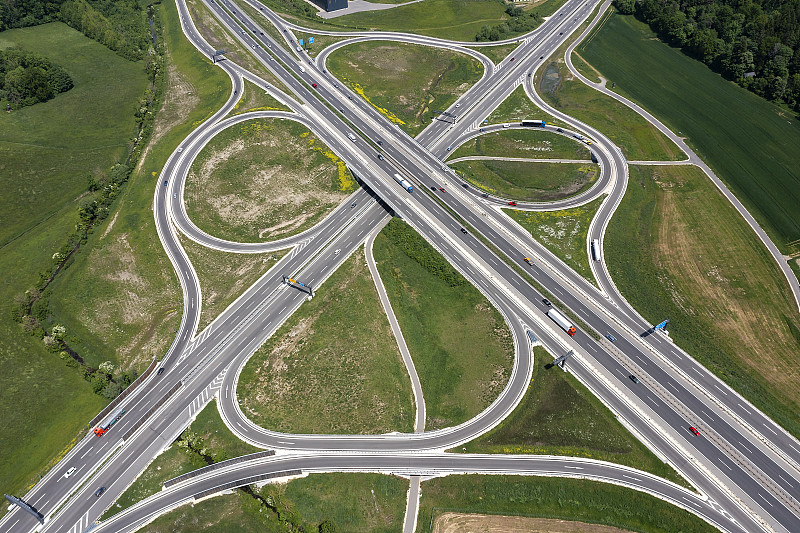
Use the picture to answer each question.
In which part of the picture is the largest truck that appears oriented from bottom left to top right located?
bottom left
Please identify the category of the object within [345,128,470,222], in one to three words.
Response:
overpass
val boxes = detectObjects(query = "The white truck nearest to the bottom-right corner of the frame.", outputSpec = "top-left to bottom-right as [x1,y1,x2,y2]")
[548,307,576,335]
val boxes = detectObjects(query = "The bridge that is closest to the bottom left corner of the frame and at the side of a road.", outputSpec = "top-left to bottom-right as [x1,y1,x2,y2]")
[149,455,293,519]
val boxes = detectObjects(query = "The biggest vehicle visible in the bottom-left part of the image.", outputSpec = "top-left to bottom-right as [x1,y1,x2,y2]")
[94,406,127,438]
